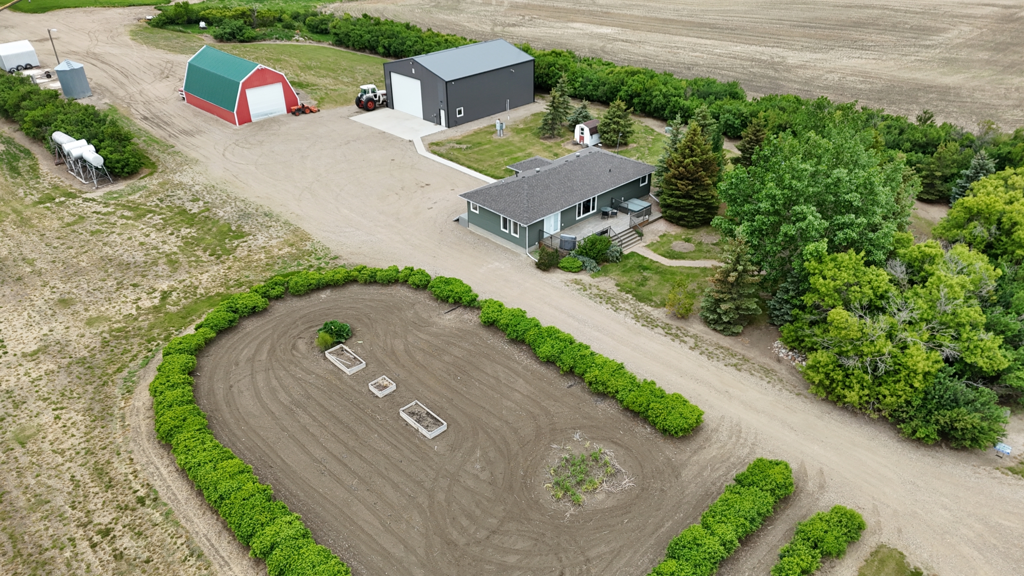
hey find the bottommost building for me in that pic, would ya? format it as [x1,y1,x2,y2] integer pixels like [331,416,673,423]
[457,141,657,259]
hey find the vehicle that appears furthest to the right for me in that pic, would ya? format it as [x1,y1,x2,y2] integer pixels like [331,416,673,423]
[355,82,387,111]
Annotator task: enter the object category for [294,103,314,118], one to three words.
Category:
work vehicle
